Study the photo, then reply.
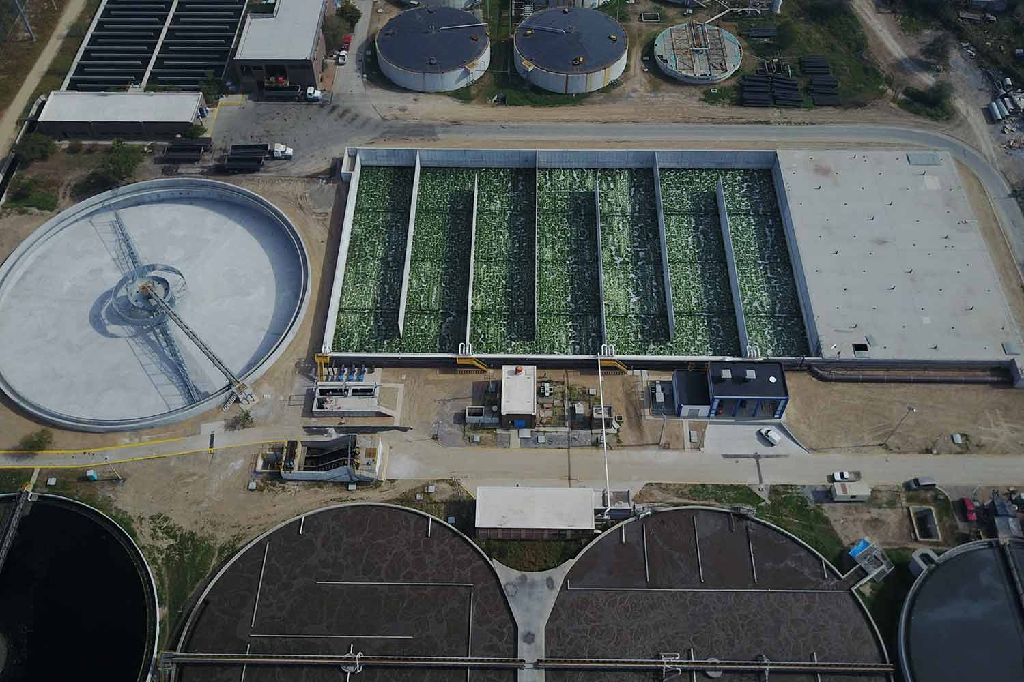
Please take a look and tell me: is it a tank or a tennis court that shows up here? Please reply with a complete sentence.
I can see a tank in this picture.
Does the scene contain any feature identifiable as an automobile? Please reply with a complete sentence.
Yes, I can see an automobile in this picture.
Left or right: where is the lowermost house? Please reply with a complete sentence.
The lowermost house appears in the right half of the scene.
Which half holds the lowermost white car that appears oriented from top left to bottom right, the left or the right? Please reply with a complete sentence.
The lowermost white car that appears oriented from top left to bottom right appears in the right half of the scene.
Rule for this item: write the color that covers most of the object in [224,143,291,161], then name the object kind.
black vehicle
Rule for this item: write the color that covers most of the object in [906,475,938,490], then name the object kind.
gray vehicle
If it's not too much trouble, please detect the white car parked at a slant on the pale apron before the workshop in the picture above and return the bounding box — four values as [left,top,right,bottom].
[760,425,783,445]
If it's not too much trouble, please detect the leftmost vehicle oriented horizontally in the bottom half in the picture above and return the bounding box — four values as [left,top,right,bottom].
[831,469,861,481]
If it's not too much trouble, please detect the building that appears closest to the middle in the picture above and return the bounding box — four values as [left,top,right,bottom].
[502,364,537,426]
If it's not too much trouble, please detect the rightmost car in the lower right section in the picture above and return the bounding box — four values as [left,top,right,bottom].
[959,497,977,521]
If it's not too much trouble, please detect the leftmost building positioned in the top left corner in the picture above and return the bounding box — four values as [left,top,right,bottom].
[39,90,204,142]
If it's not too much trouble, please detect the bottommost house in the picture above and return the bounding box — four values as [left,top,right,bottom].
[845,539,896,590]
